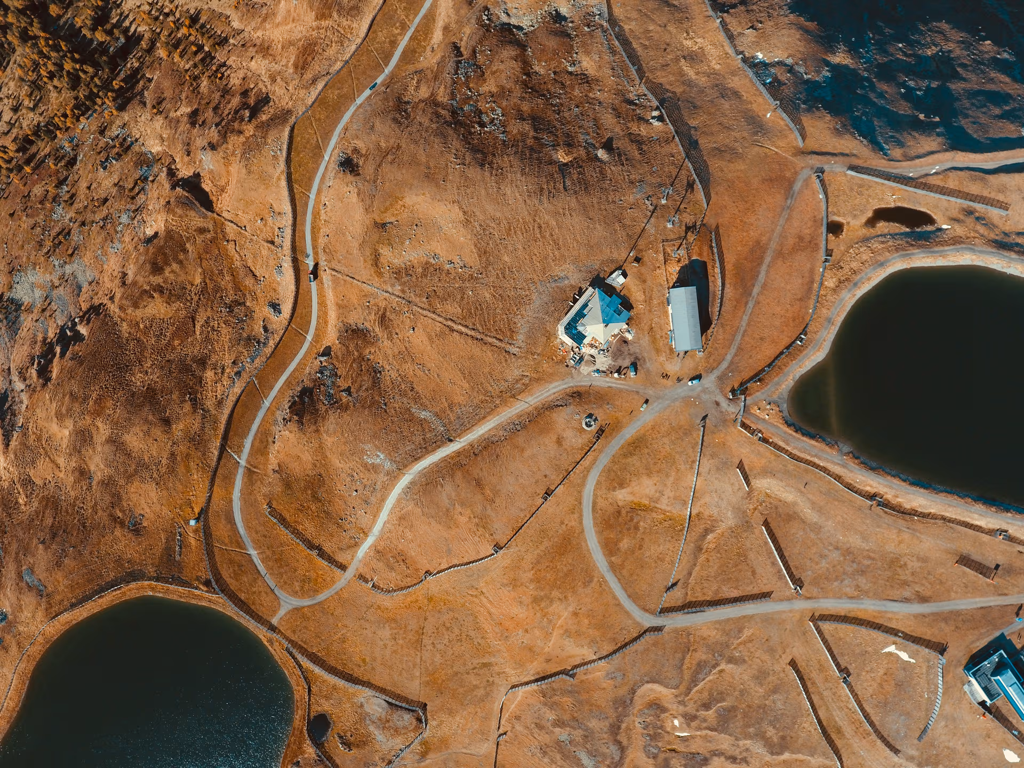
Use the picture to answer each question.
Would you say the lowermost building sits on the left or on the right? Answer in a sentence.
You can find the lowermost building on the right side of the picture.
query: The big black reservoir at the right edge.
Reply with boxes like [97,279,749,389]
[787,266,1024,512]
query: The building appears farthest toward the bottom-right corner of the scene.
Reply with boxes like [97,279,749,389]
[958,645,1024,736]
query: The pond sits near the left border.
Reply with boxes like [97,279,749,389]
[0,594,294,768]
